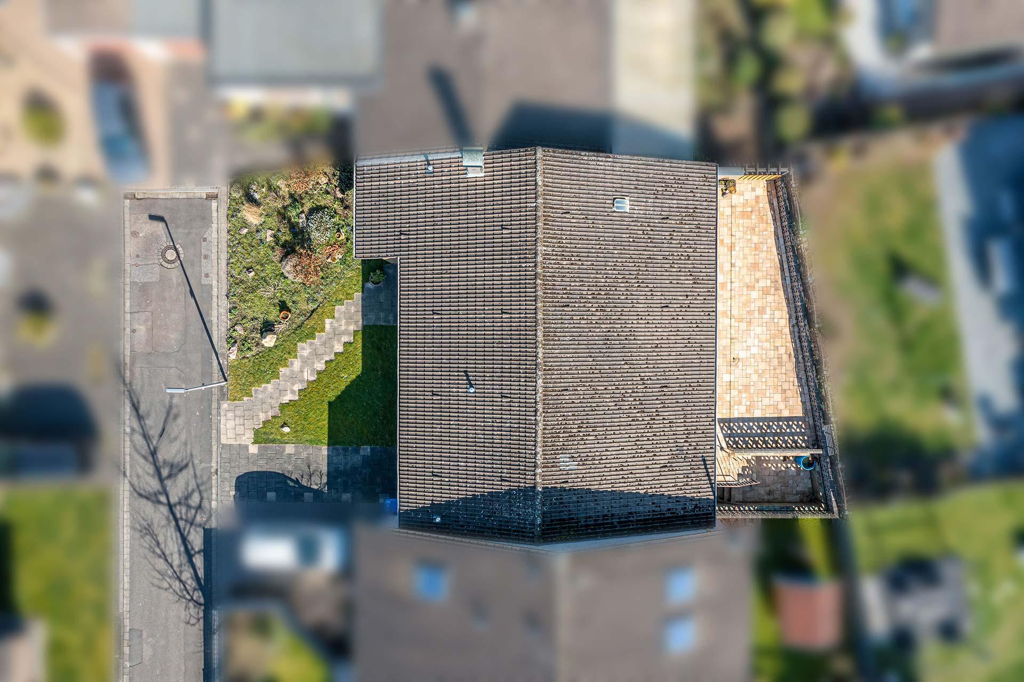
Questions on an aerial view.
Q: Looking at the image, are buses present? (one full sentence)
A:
No, there appears to be no bus in this shot.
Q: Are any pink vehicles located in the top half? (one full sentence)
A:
No, in the top half there is no pink vehicle.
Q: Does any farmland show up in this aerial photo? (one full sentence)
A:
No, there's no farmland in this view.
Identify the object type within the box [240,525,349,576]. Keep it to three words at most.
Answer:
car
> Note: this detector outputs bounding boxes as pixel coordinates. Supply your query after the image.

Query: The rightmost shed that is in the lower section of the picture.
[765,570,840,647]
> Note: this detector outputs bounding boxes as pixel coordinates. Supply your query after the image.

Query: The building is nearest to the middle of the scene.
[354,148,726,543]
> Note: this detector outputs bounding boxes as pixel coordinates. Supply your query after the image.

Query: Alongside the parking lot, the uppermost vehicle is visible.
[89,76,153,183]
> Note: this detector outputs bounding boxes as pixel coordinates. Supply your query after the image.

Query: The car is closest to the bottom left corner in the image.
[0,438,95,487]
